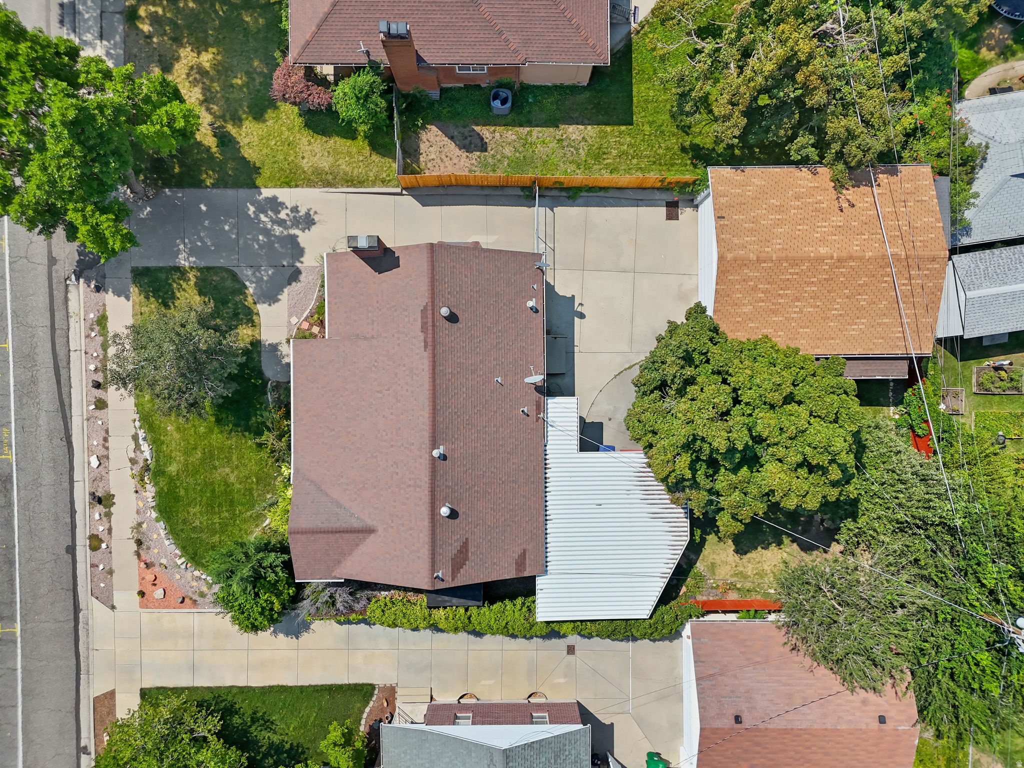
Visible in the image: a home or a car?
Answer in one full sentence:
Visible in the photo is a home.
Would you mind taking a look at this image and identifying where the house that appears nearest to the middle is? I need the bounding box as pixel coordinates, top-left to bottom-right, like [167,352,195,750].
[287,235,548,608]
